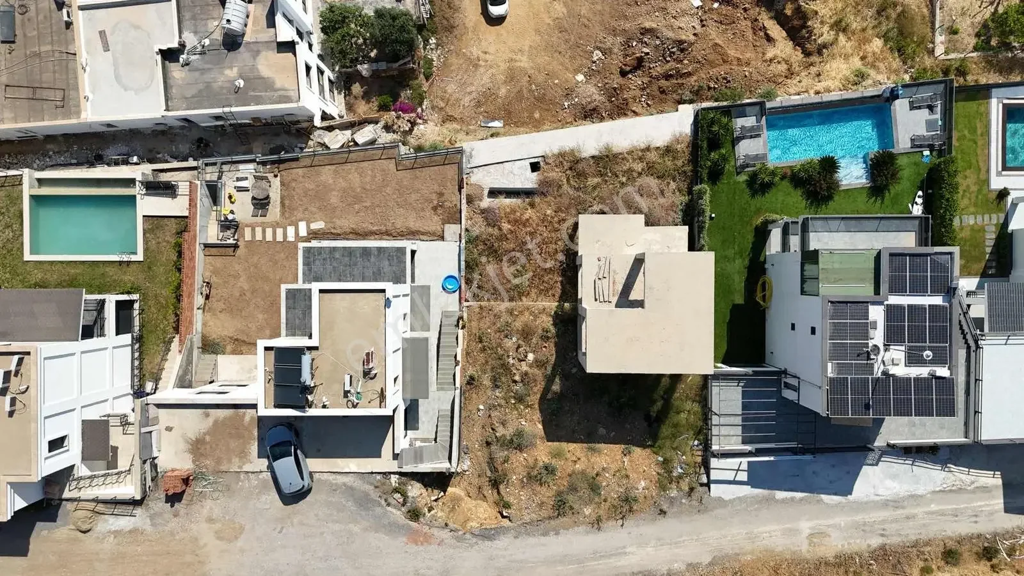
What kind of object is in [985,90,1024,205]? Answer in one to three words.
swimming pool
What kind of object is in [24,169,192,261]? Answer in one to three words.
swimming pool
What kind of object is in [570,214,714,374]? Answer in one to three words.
house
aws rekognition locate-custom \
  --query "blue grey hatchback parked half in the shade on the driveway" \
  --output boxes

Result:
[266,419,316,500]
